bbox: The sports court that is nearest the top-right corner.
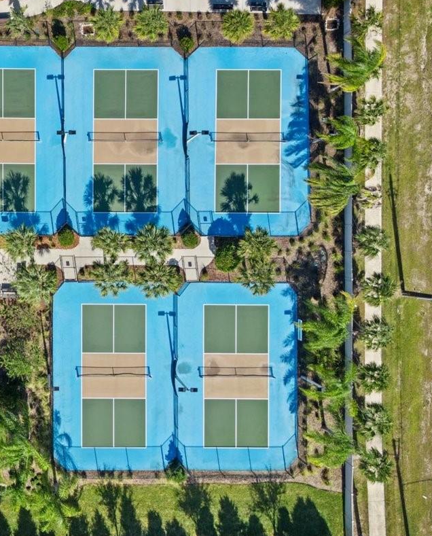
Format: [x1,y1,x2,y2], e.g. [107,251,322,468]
[186,49,311,236]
